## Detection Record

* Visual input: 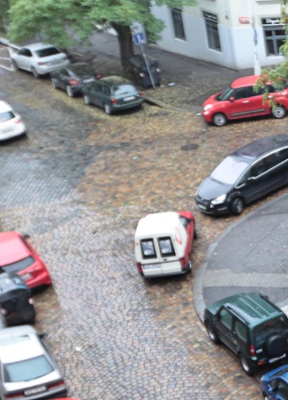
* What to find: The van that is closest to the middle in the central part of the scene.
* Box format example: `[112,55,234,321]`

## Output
[130,199,199,277]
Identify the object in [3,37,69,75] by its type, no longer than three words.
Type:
car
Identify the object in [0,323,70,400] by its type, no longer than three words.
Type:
car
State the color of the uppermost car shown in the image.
white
